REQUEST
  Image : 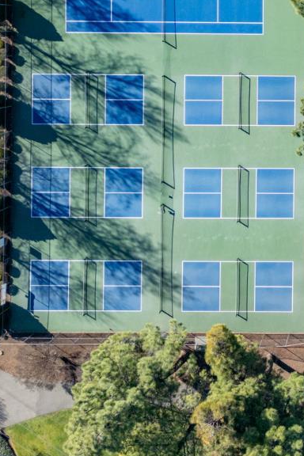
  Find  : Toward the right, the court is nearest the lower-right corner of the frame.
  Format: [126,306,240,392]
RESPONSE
[182,261,294,312]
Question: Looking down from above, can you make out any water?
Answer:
No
